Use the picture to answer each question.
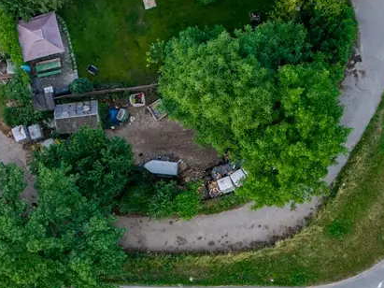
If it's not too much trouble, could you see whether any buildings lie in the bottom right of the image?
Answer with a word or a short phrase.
No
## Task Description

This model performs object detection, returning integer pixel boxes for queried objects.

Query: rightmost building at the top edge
[19,14,81,72]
